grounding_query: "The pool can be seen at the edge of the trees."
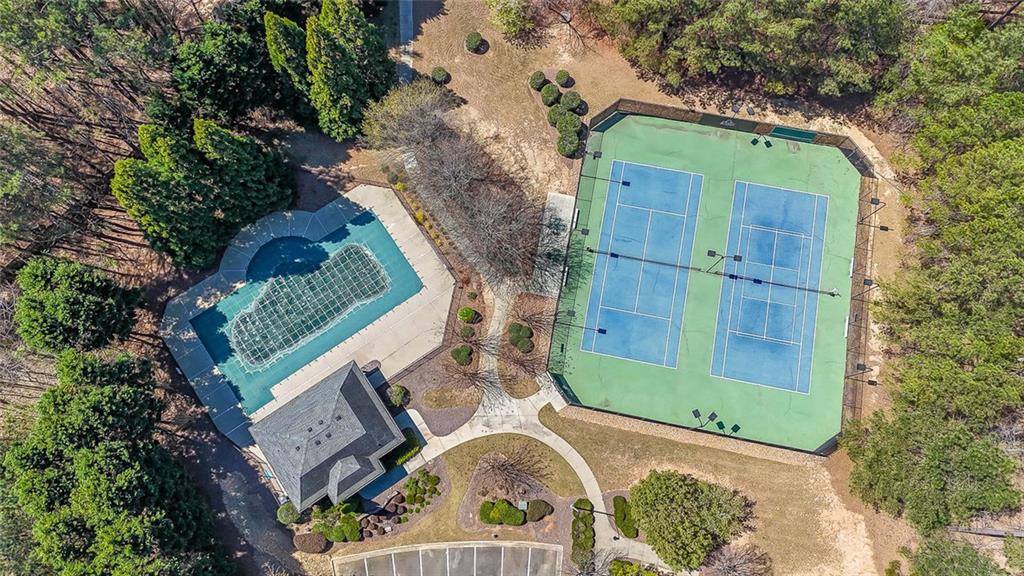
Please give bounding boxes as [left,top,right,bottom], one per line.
[160,184,456,482]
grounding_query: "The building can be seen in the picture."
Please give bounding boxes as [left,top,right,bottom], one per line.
[249,359,406,514]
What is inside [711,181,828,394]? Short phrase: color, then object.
blue tennis court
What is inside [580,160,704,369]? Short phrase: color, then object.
blue tennis court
